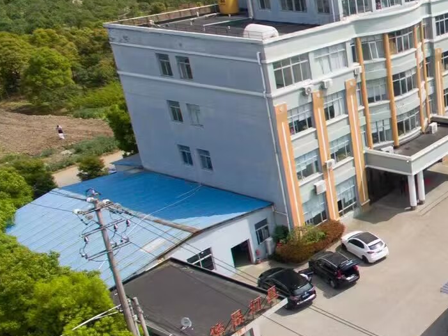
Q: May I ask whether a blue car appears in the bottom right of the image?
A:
No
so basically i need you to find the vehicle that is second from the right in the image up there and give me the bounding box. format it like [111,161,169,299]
[308,251,356,287]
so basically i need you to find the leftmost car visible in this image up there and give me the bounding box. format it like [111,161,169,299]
[263,268,316,306]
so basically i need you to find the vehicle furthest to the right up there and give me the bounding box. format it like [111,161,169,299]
[340,233,386,261]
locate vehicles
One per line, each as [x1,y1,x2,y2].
[308,251,356,287]
[340,233,386,261]
[263,268,316,306]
